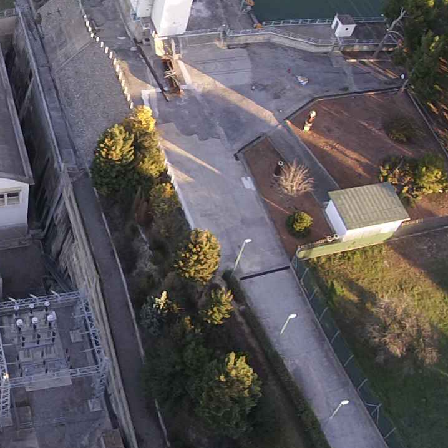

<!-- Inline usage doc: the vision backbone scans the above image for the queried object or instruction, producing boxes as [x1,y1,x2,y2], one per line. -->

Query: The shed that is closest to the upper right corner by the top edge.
[328,13,360,41]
